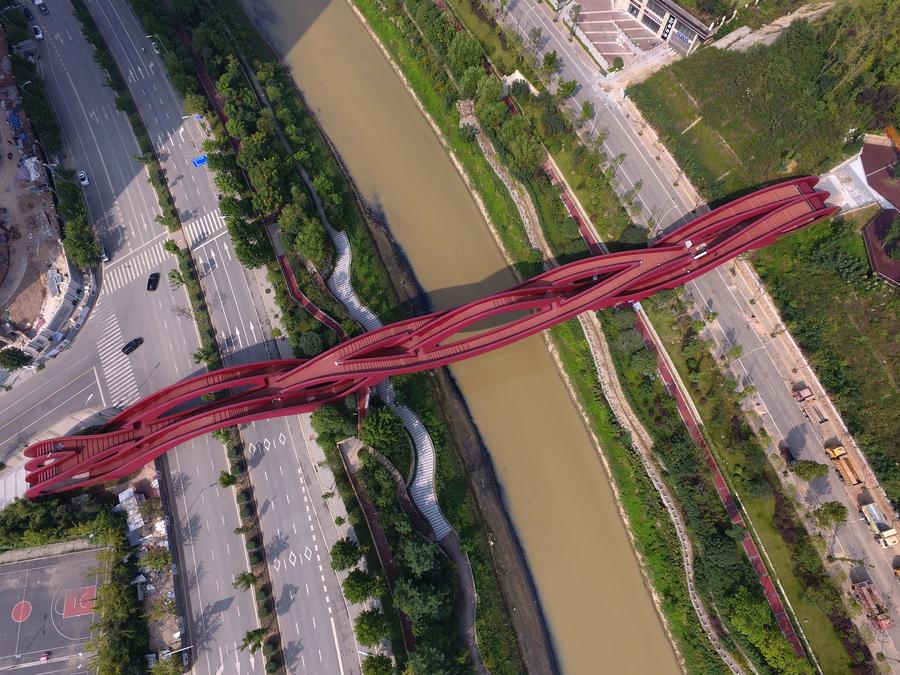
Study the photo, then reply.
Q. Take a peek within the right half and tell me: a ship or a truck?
truck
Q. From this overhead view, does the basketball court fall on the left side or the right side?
left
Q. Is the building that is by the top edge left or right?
right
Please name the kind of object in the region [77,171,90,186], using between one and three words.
vehicle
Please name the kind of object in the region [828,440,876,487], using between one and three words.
truck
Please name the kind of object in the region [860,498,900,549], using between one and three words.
truck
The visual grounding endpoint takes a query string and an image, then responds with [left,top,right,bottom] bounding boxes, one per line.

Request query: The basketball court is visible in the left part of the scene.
[0,549,108,675]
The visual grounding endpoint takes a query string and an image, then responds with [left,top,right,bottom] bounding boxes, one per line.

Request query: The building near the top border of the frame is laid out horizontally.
[605,0,729,57]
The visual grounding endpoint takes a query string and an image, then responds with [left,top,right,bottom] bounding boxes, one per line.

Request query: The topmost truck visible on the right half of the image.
[796,385,838,425]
